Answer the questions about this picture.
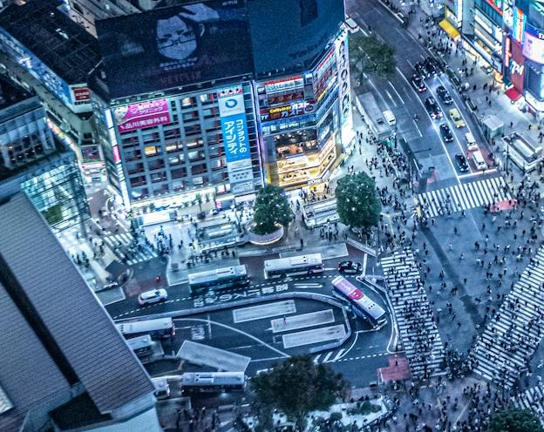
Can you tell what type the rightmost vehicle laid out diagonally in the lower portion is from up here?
bus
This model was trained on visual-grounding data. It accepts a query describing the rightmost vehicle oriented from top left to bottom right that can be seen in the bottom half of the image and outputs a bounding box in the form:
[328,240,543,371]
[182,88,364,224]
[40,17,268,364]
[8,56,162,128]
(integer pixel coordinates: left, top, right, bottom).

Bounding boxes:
[333,275,388,328]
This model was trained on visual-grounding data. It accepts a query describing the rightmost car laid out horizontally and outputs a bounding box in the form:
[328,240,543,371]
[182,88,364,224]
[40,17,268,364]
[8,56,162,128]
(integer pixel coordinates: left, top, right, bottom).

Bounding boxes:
[335,262,363,275]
